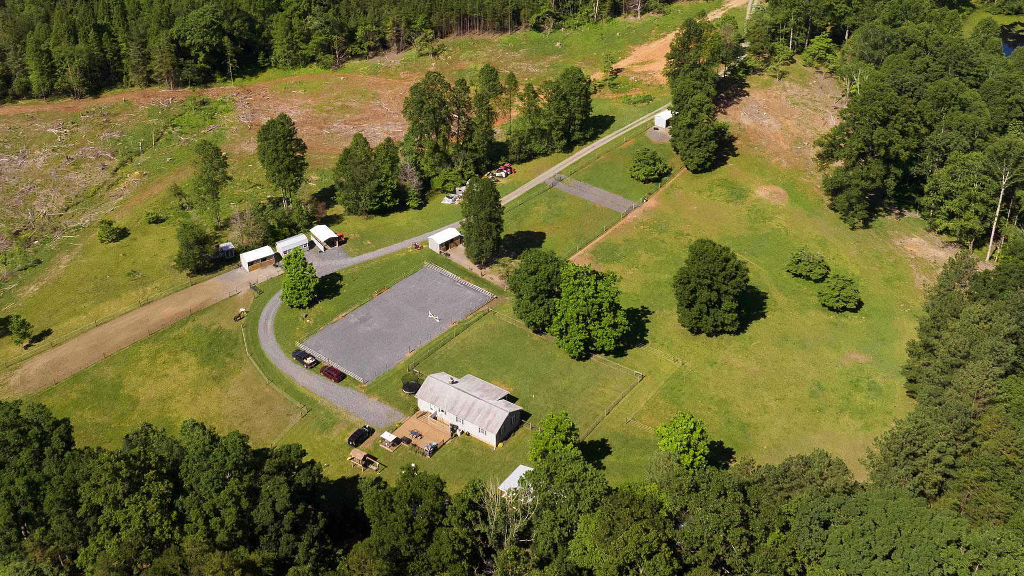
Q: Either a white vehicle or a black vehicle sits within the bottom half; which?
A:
black vehicle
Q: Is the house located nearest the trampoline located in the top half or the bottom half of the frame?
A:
bottom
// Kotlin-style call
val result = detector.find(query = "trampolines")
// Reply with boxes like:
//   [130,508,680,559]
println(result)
[401,376,420,395]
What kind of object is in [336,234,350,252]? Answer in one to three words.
work vehicle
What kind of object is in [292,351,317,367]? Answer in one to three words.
vehicle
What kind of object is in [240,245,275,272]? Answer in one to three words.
shed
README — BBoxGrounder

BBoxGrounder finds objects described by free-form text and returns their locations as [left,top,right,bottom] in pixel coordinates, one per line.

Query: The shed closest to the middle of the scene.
[428,227,460,254]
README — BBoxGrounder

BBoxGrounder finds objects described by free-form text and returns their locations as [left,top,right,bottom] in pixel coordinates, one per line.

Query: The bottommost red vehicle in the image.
[320,366,343,381]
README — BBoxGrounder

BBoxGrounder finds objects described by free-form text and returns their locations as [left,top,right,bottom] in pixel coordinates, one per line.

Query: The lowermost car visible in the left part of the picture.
[348,429,374,447]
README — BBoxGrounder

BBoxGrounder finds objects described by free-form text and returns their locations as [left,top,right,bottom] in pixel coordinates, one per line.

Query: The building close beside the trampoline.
[415,372,522,450]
